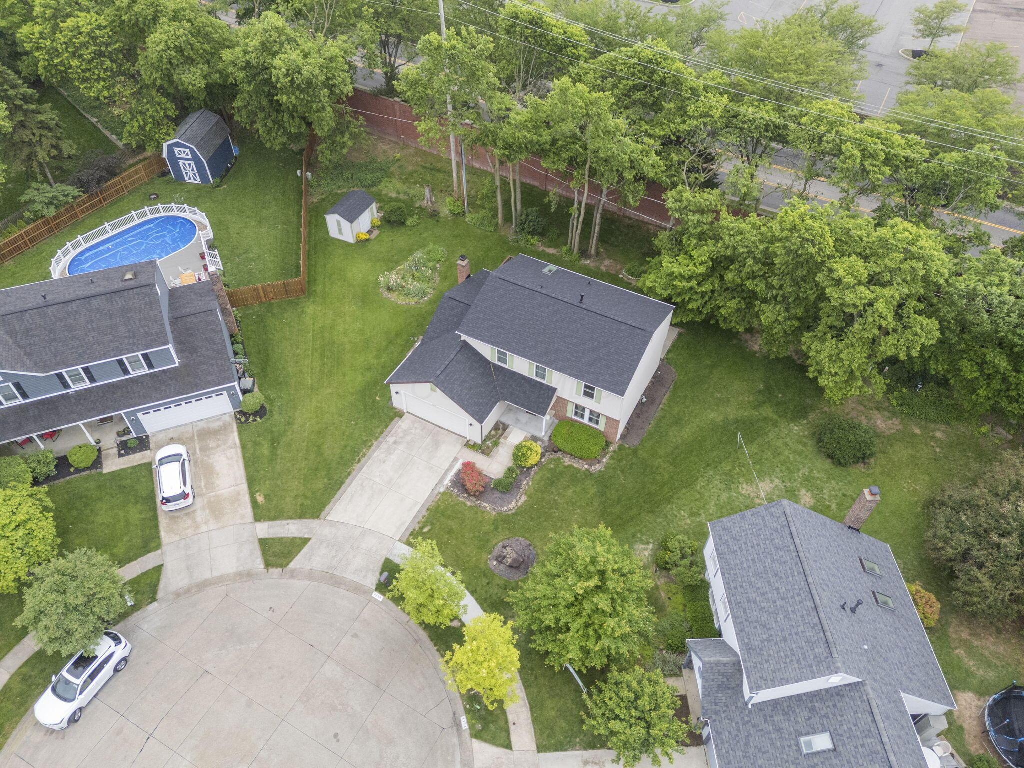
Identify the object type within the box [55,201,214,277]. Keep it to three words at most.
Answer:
swimming pool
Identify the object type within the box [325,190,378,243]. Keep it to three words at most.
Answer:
shed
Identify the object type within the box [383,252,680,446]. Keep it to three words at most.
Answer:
house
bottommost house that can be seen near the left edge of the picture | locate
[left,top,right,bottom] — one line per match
[0,256,242,479]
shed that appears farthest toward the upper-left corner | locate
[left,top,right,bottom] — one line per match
[162,112,233,183]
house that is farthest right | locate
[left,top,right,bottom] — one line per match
[682,488,973,768]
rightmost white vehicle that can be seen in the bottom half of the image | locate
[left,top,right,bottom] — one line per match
[154,443,194,506]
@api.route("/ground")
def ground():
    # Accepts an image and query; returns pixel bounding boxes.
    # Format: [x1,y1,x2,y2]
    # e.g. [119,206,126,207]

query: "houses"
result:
[383,252,680,446]
[0,256,242,479]
[682,488,973,768]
